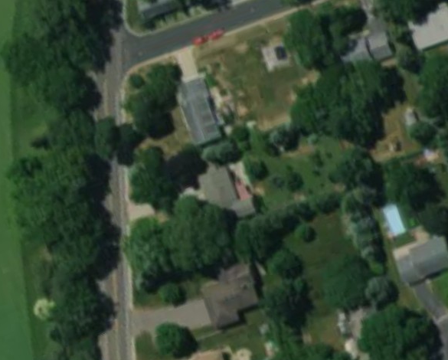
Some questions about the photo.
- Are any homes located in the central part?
Yes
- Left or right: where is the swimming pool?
right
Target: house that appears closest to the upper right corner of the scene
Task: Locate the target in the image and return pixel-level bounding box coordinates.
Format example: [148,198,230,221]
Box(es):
[410,4,448,49]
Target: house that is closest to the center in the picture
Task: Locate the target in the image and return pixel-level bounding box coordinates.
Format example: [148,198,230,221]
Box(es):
[205,165,255,218]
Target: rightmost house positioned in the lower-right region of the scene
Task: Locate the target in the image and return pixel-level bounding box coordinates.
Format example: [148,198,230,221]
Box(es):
[399,240,448,285]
